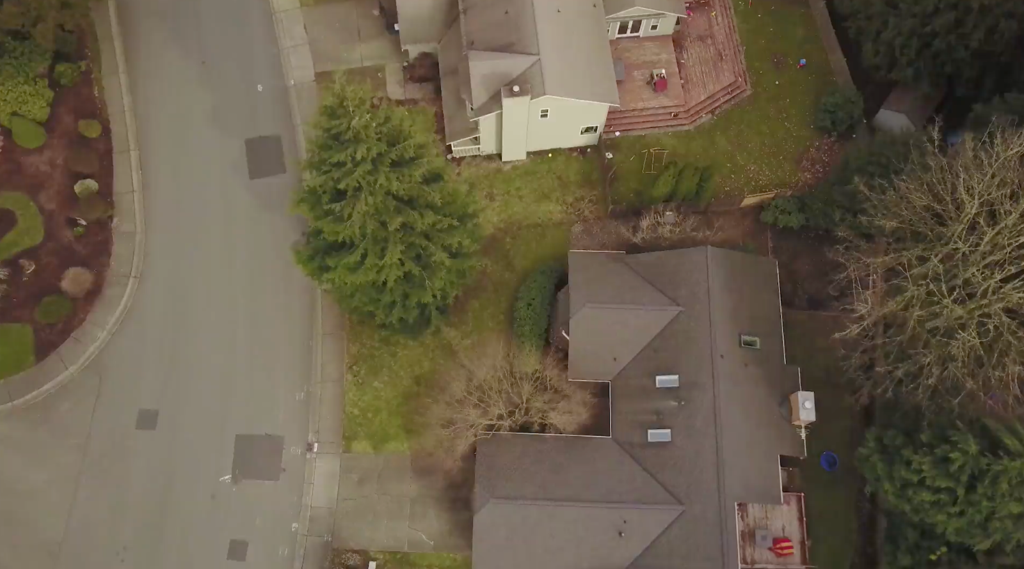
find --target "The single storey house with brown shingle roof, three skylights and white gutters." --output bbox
[471,245,819,569]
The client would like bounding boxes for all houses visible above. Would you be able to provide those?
[471,245,819,569]
[397,0,687,161]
